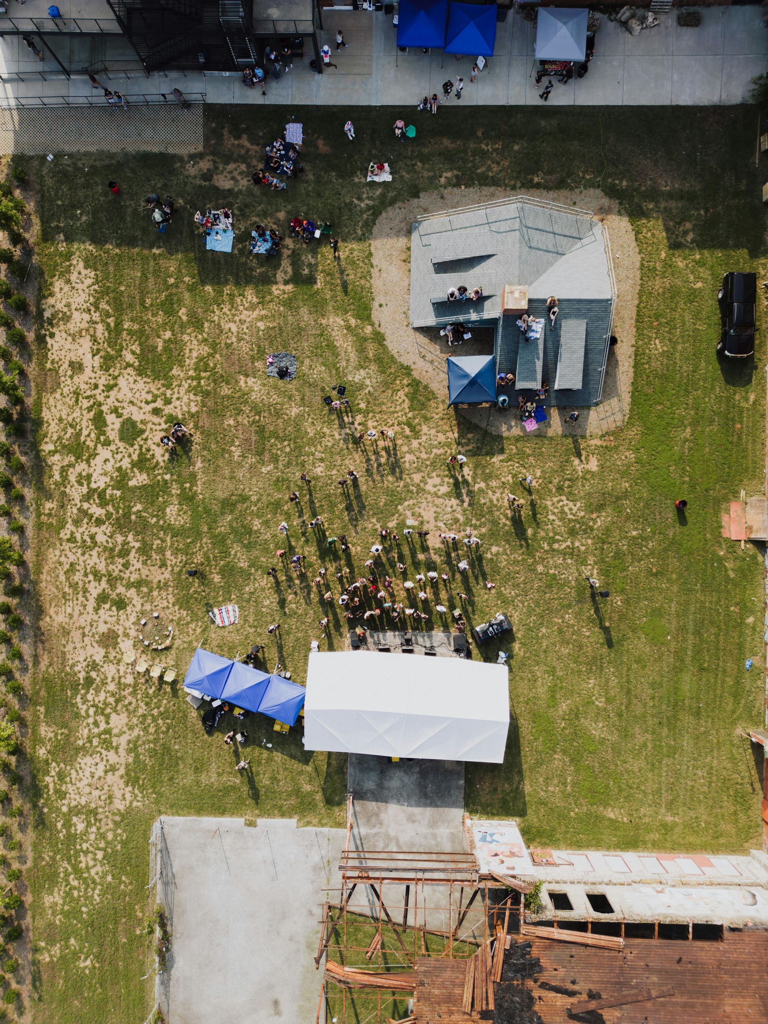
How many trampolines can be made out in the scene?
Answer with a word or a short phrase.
zero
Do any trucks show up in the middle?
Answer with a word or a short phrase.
No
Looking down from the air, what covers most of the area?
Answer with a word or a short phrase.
grass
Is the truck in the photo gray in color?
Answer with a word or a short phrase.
No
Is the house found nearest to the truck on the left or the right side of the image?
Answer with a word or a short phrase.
right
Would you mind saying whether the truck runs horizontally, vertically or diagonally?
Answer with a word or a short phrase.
vertically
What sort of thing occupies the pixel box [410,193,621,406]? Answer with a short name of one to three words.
house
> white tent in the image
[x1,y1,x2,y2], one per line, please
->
[305,646,510,763]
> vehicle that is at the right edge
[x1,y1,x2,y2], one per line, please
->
[715,273,760,361]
